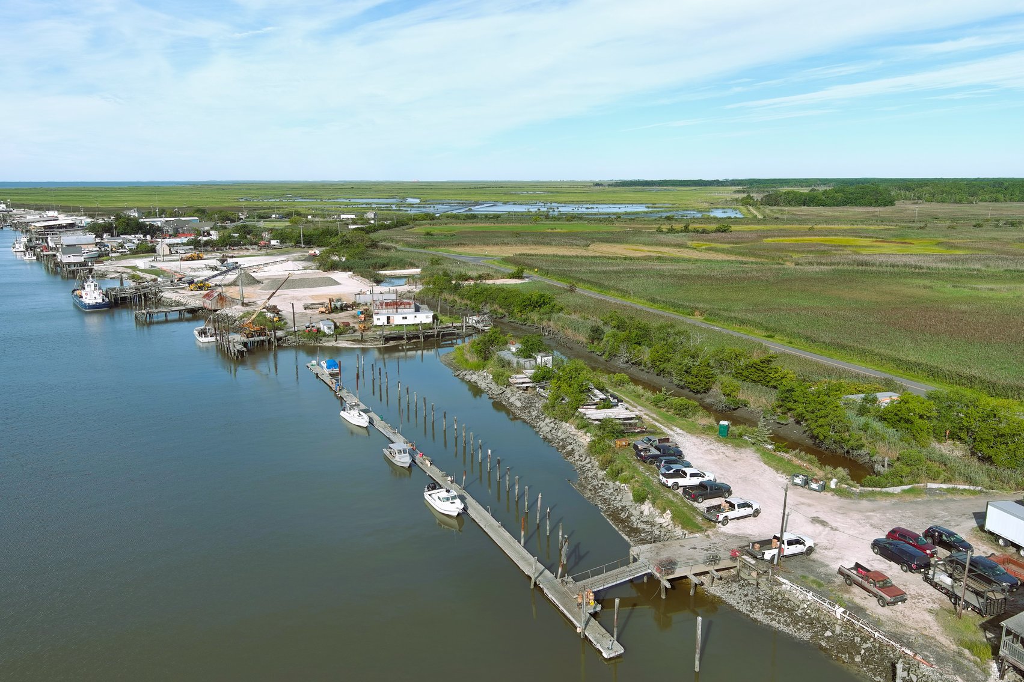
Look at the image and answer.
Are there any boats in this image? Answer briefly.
Yes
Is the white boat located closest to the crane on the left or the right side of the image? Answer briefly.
left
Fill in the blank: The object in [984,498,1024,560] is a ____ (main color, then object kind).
white vehicle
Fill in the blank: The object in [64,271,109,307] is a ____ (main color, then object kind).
white boat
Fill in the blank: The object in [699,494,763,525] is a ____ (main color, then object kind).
white truck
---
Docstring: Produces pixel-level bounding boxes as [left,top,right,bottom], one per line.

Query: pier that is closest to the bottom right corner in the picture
[629,533,743,603]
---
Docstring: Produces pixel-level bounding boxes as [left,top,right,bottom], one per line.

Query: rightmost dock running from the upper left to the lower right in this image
[308,363,624,659]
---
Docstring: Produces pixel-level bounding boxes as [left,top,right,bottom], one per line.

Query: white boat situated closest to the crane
[195,323,218,345]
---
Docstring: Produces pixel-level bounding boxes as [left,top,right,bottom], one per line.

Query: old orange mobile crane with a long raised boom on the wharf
[236,273,294,340]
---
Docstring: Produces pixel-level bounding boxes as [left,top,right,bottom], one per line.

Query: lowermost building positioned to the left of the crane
[200,291,240,311]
